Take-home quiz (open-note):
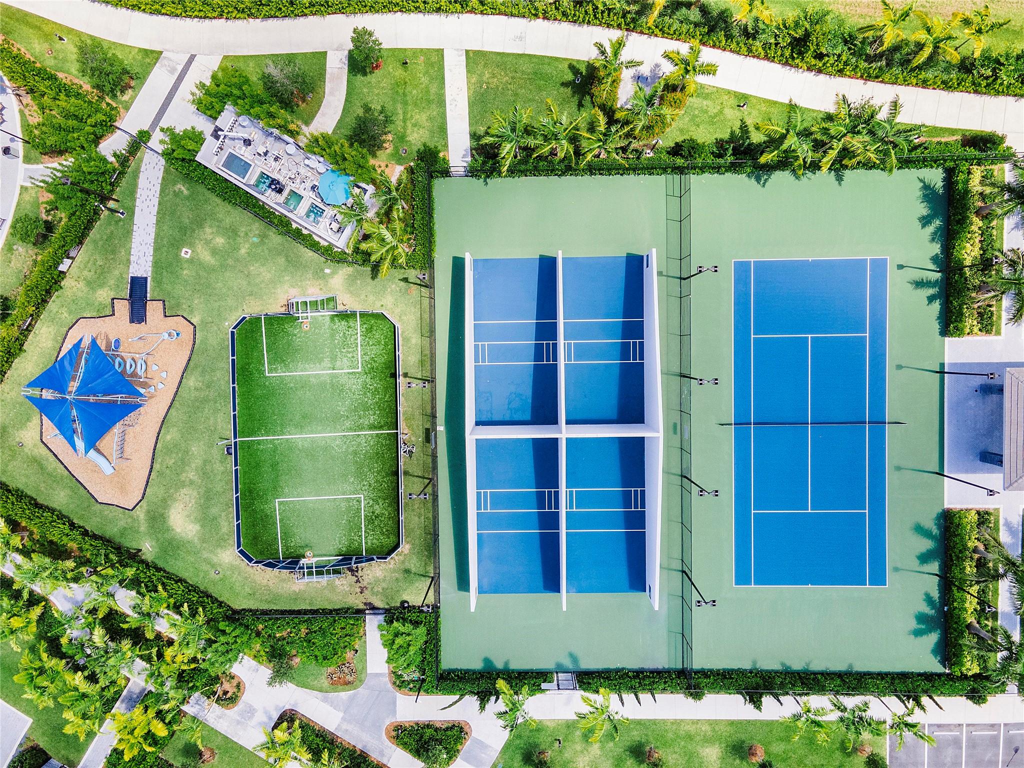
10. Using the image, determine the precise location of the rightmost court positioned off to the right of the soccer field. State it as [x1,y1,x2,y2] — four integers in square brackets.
[681,166,950,678]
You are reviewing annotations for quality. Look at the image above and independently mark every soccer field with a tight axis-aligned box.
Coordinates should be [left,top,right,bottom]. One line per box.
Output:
[229,294,404,584]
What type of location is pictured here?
sports ground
